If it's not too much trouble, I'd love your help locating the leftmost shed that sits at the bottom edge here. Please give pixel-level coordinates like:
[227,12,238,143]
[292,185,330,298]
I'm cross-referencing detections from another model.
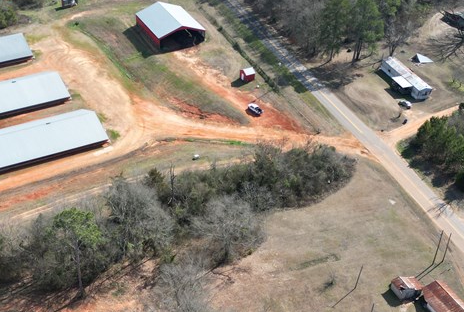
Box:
[390,271,427,299]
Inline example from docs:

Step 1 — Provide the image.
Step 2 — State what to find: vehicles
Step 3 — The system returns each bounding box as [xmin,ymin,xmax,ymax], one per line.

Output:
[246,105,262,115]
[398,101,413,109]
